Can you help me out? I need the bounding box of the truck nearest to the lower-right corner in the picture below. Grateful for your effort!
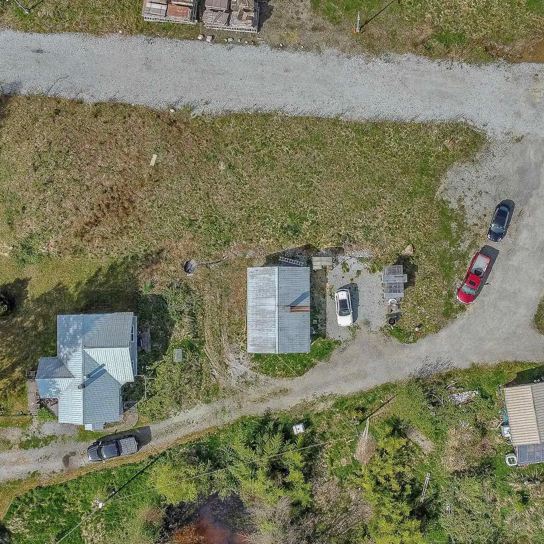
[457,250,491,303]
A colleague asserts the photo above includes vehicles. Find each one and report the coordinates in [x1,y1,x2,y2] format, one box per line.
[457,250,491,303]
[334,288,355,327]
[88,433,140,461]
[486,202,511,243]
